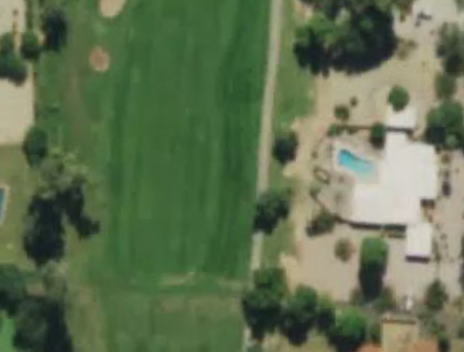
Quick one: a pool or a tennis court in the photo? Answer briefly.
pool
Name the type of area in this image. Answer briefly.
golf course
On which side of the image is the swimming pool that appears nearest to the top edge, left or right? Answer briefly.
right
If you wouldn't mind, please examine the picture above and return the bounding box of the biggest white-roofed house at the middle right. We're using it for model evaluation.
[351,134,438,257]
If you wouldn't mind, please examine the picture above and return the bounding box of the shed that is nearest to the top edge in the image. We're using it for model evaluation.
[387,107,418,130]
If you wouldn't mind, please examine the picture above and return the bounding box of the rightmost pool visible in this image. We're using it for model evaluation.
[337,149,375,178]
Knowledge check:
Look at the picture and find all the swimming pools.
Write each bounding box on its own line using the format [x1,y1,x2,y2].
[0,185,7,222]
[337,149,375,178]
